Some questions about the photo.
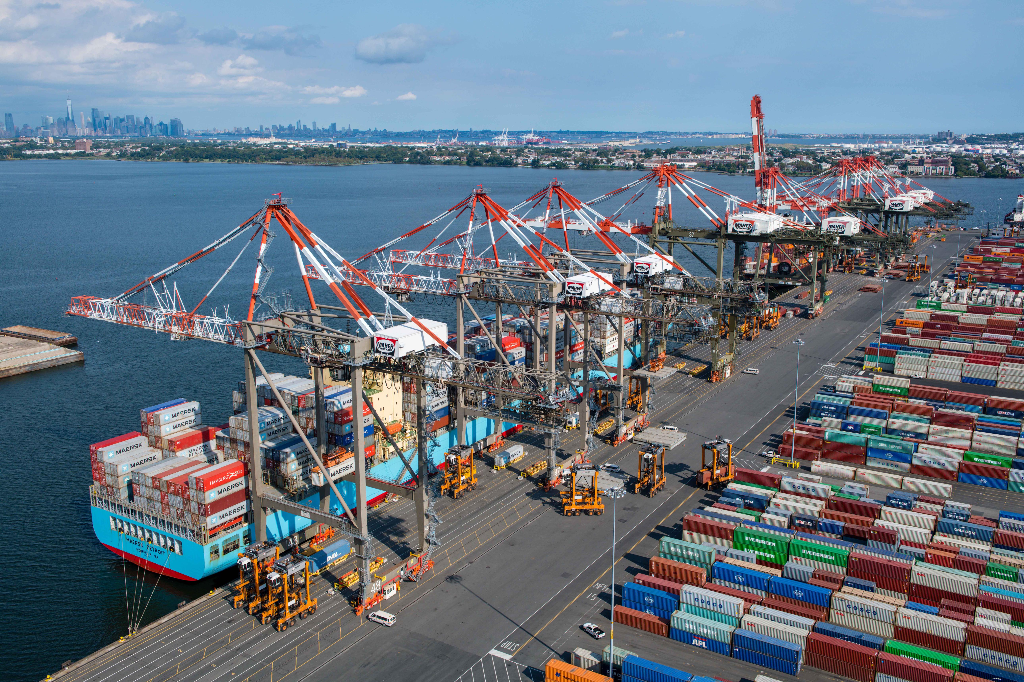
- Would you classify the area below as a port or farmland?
port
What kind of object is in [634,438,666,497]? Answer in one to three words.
work vehicle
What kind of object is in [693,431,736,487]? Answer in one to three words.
work vehicle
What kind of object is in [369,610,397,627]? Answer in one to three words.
vehicle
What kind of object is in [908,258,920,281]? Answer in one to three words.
vehicle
